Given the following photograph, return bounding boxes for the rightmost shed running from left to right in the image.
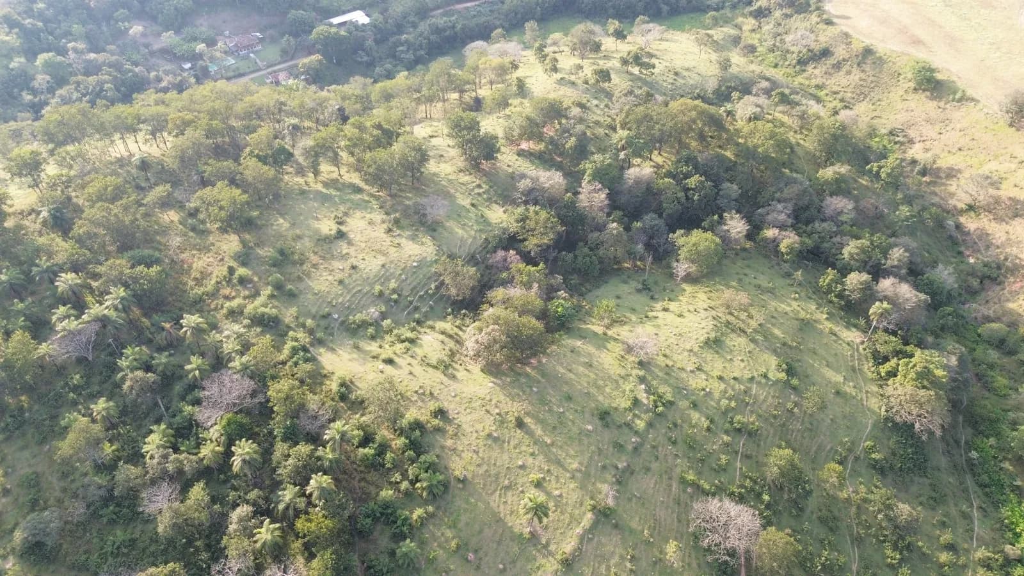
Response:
[327,12,374,27]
